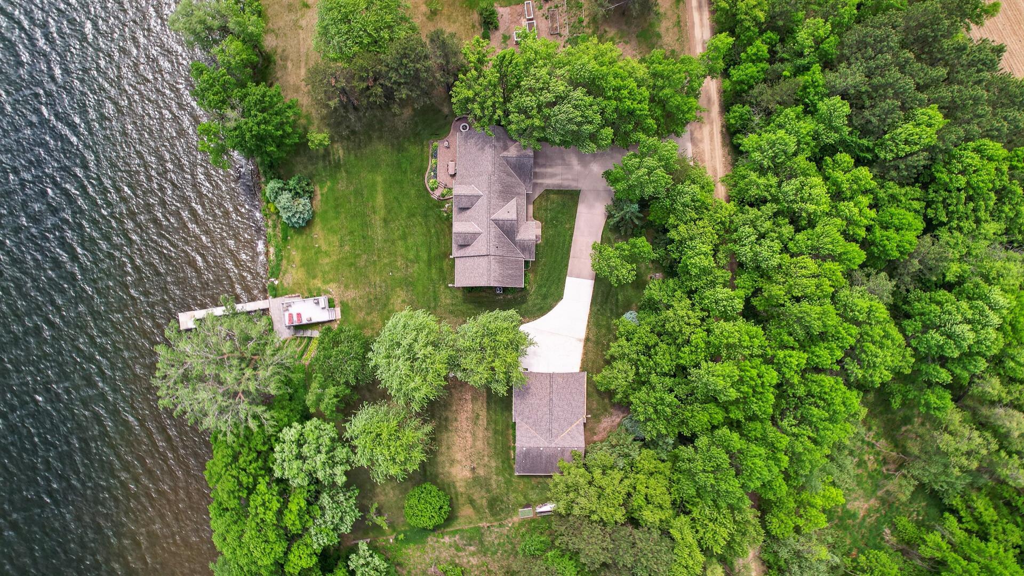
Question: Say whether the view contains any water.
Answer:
Yes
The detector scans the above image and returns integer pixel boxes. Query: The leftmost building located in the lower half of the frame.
[512,371,591,475]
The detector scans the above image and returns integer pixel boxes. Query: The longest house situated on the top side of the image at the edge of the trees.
[447,126,536,287]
